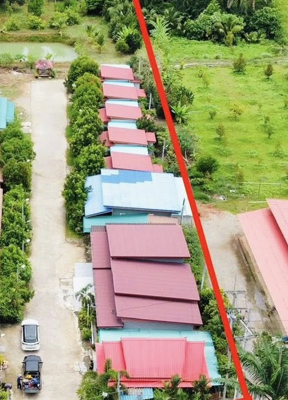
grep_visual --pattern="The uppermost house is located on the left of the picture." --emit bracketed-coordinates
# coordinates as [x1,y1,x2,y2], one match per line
[96,63,133,92]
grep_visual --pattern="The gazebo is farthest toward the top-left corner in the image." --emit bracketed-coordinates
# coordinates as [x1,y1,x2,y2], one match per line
[34,54,56,78]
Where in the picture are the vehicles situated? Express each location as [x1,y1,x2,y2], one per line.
[20,322,40,354]
[21,355,44,399]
